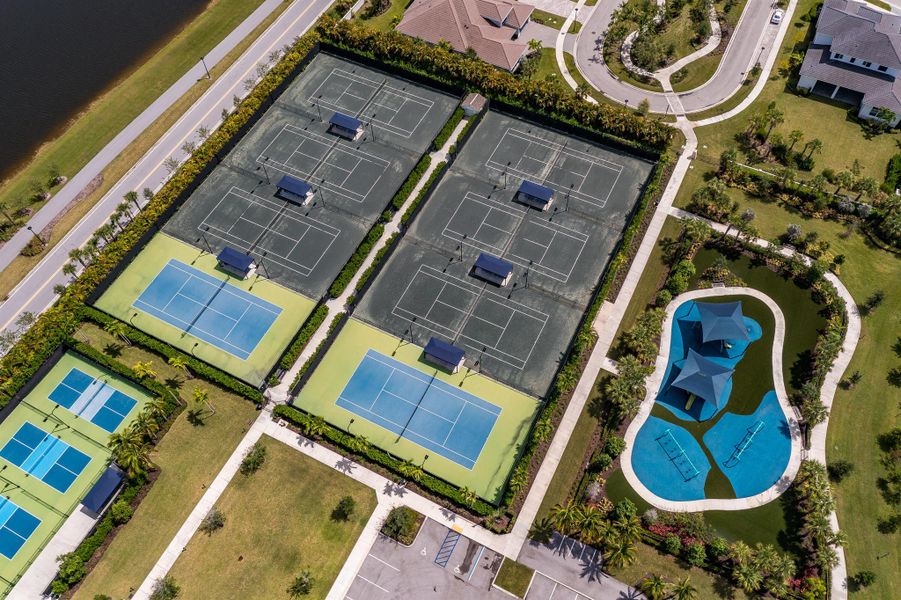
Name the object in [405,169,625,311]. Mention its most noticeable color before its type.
gray tennis court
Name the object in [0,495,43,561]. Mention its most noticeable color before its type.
blue sports court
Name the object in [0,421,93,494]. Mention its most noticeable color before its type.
blue sports court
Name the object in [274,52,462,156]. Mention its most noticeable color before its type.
gray tennis court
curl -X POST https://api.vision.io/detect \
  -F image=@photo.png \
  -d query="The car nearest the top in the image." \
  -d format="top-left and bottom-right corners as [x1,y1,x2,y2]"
[772,6,785,21]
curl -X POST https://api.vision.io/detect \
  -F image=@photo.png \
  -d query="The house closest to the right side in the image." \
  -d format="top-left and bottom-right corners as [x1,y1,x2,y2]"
[798,0,901,127]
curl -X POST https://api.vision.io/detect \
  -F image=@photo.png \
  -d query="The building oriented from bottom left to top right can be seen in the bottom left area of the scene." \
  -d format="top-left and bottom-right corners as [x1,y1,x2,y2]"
[79,465,127,513]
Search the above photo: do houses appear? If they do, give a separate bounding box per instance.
[798,0,901,127]
[392,0,538,75]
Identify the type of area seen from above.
sports ground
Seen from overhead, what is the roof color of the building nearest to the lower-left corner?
blue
